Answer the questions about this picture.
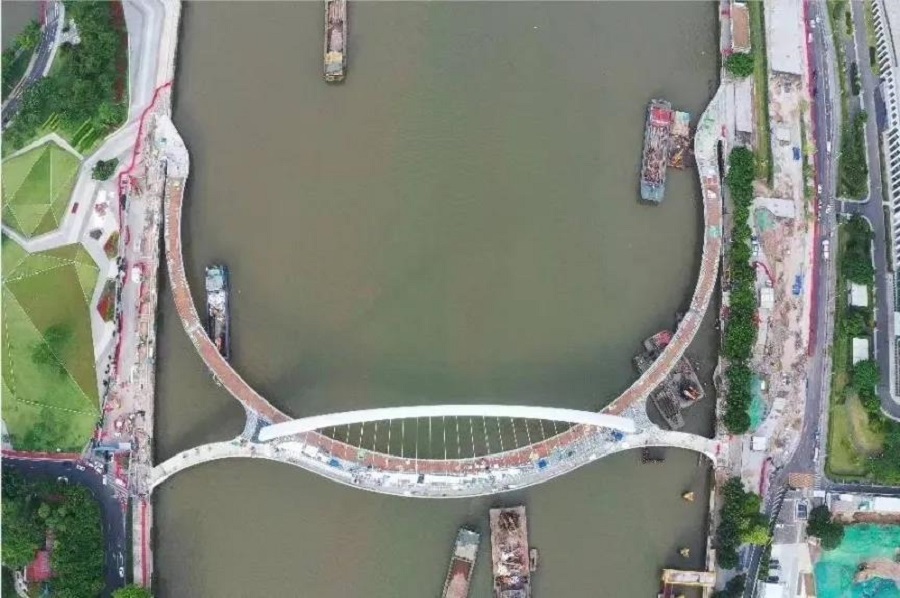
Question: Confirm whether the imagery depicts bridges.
Yes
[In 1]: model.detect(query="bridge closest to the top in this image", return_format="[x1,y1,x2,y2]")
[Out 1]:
[150,84,735,499]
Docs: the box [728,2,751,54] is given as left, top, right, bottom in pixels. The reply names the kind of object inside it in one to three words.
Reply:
building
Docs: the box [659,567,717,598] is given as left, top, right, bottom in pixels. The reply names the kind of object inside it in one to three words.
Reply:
pier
